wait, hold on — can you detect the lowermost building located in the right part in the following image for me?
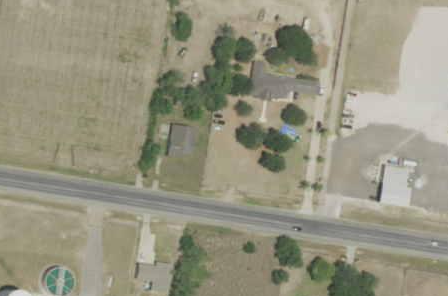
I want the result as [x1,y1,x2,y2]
[376,166,412,206]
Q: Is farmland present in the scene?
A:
Yes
